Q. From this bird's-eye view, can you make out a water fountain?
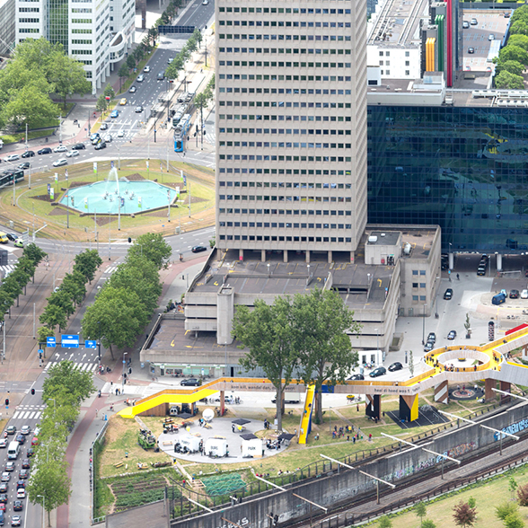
Yes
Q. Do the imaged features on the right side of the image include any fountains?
No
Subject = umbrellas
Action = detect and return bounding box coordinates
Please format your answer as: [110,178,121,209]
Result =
[230,419,251,435]
[276,434,297,442]
[237,434,258,442]
[175,412,195,429]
